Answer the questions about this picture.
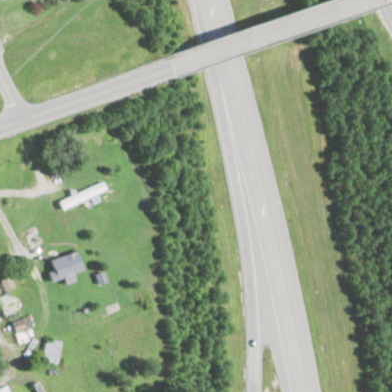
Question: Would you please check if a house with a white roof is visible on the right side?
No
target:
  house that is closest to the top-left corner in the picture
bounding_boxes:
[60,180,108,210]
